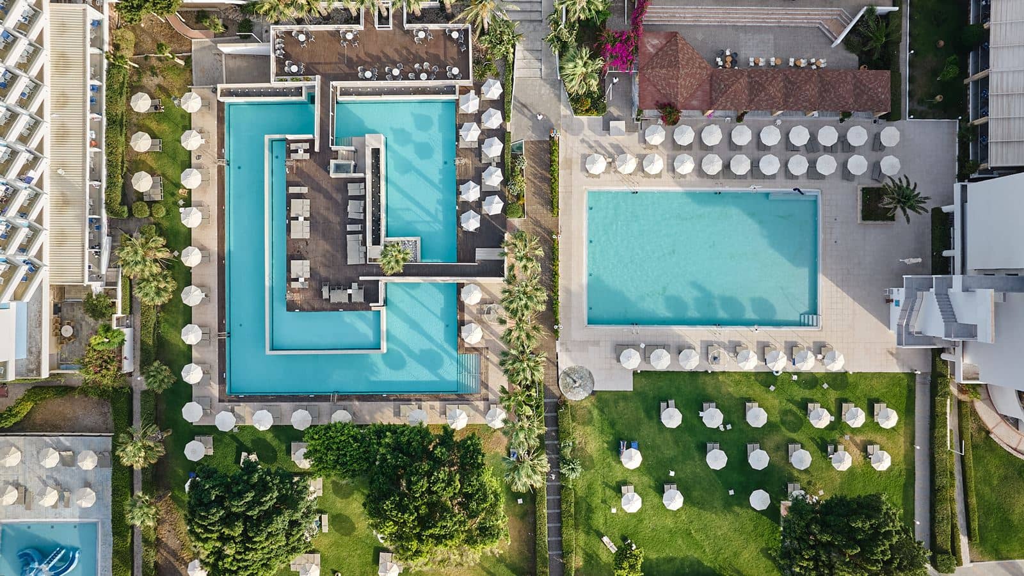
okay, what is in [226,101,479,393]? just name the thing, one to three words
swimming pool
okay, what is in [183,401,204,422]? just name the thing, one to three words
umbrella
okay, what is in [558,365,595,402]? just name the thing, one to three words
fountain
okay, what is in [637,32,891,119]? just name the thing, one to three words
building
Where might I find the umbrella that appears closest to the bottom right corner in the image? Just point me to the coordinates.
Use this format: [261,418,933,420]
[869,450,891,471]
